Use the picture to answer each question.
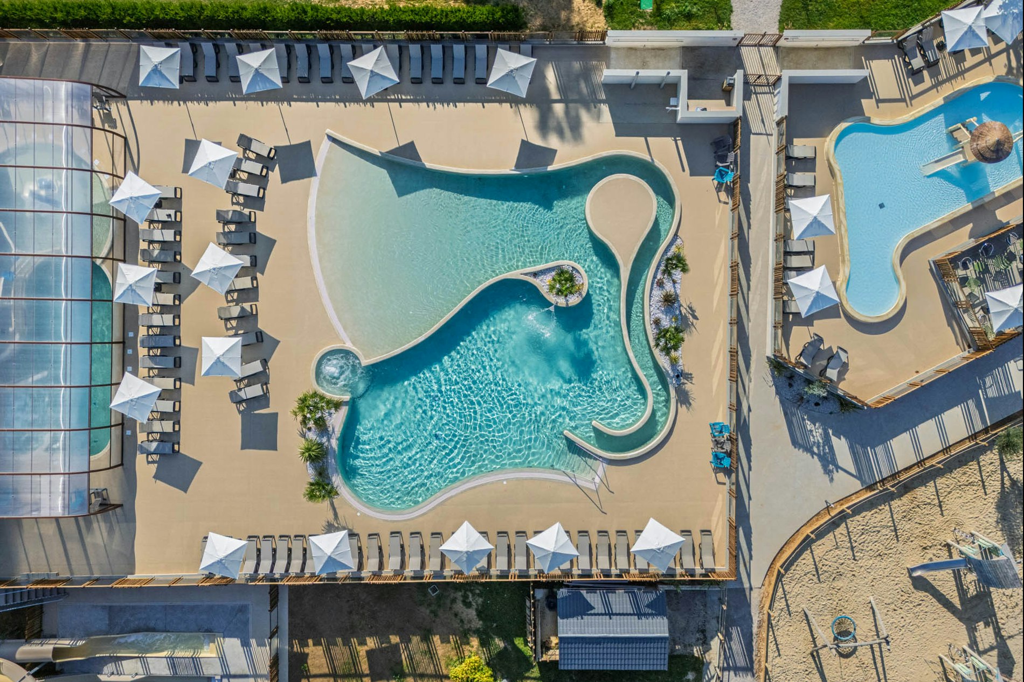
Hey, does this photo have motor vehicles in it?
No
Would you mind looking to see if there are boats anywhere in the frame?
No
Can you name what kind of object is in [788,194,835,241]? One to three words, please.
umbrella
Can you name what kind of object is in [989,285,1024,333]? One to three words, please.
umbrella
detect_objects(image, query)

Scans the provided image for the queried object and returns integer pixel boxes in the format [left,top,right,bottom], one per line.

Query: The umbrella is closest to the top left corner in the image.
[138,45,185,90]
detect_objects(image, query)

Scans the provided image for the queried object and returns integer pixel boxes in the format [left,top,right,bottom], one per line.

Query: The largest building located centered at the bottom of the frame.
[558,583,671,671]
